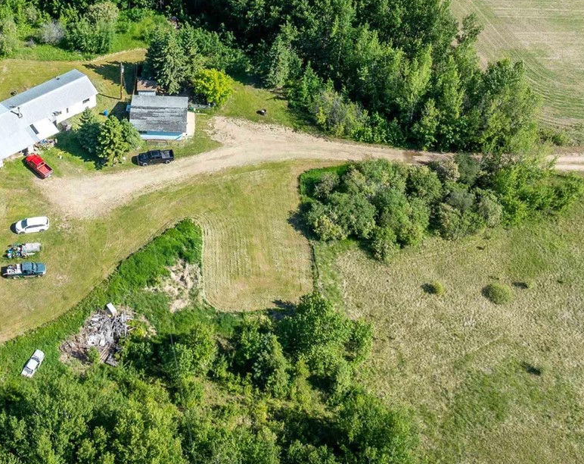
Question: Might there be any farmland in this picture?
Yes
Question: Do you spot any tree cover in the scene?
Yes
